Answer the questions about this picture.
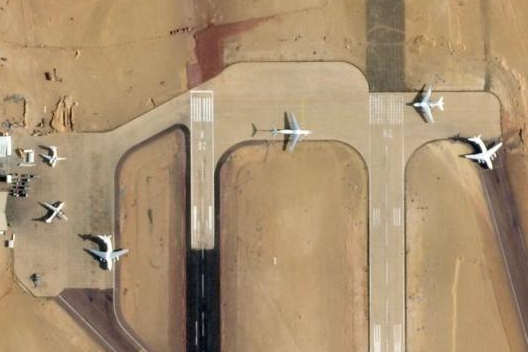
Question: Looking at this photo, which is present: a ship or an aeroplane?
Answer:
aeroplane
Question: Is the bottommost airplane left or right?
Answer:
left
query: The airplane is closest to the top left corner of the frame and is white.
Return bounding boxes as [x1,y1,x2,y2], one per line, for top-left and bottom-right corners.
[41,147,66,167]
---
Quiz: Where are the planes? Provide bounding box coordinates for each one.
[274,112,311,152]
[45,200,67,225]
[464,134,501,170]
[41,147,66,167]
[413,85,444,124]
[89,236,129,271]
